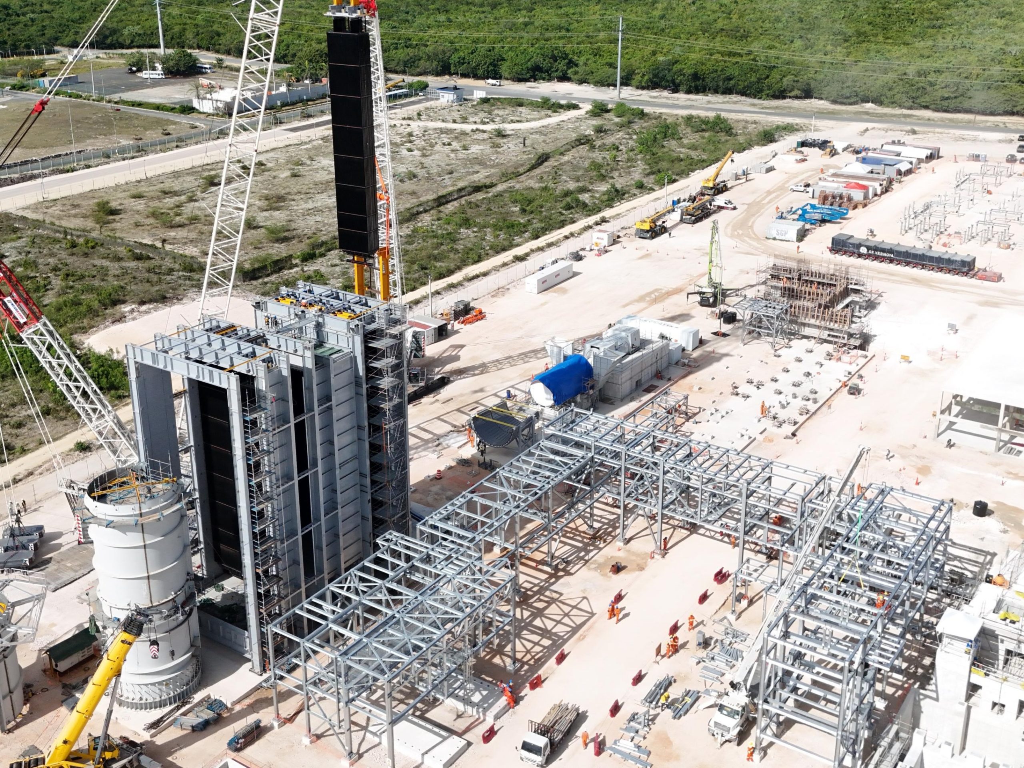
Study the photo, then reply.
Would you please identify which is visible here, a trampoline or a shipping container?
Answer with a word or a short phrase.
shipping container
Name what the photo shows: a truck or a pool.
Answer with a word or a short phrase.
truck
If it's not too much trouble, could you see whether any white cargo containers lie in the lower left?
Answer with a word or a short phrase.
No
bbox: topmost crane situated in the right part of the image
[706,127,736,193]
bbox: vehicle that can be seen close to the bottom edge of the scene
[518,698,586,765]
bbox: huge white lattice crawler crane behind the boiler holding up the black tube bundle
[0,0,302,560]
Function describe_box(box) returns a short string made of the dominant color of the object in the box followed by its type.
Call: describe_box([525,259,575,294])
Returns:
white shipping container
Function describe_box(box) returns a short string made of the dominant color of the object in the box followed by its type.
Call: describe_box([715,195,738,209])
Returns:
white vehicle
